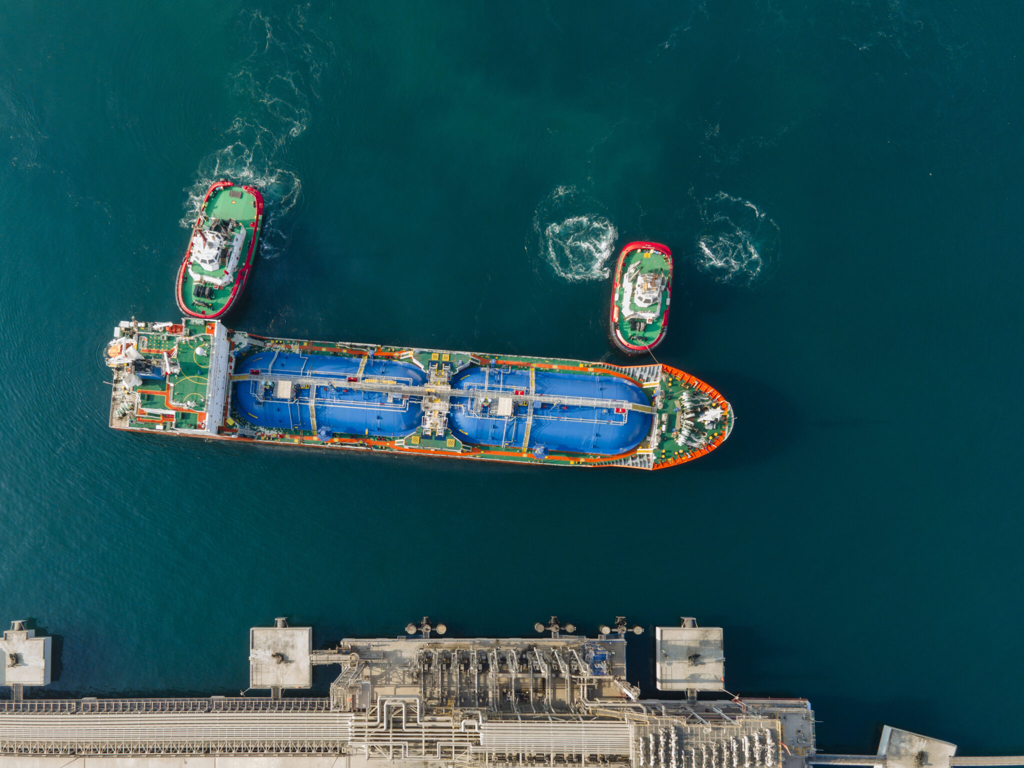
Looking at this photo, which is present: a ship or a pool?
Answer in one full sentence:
There is a ship in the scene.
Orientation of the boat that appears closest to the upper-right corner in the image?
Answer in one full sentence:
I'd say the boat that appears closest to the upper-right corner is aligned up and down in the picture.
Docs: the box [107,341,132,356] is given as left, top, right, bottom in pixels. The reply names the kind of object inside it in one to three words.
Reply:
boat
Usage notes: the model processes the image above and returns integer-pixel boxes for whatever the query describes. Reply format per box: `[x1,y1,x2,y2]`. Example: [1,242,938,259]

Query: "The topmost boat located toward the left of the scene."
[173,178,263,322]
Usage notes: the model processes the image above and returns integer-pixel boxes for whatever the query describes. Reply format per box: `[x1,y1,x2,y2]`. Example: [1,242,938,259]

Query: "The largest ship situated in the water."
[103,316,738,472]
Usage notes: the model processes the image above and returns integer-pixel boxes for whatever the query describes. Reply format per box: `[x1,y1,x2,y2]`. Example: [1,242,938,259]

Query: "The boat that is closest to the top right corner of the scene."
[608,241,673,357]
